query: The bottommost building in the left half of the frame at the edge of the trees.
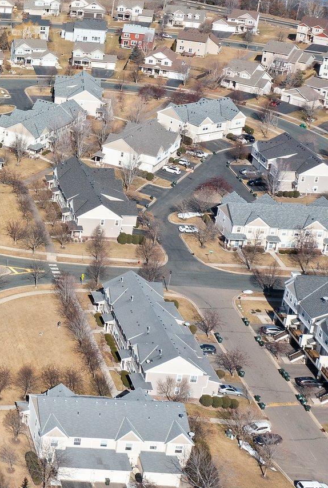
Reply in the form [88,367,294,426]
[24,371,195,488]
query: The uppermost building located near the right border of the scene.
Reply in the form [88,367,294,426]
[295,17,328,47]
